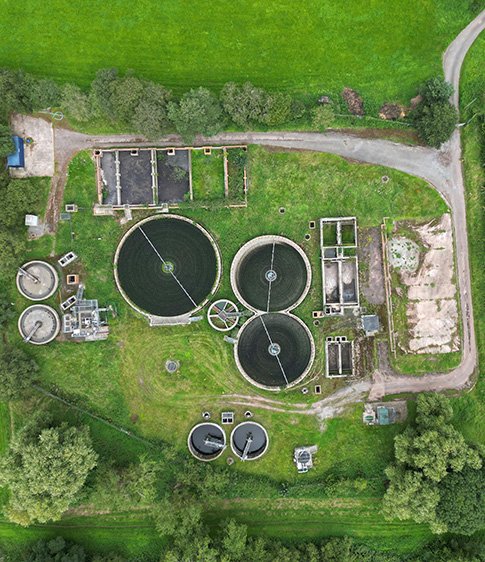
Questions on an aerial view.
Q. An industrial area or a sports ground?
industrial area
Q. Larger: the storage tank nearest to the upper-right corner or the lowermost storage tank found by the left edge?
the storage tank nearest to the upper-right corner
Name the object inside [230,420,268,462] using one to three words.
storage tank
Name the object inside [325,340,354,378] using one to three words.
storage tank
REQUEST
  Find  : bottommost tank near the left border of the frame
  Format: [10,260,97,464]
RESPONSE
[19,304,61,345]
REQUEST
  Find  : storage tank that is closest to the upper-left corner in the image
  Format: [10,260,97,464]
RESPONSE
[16,260,59,301]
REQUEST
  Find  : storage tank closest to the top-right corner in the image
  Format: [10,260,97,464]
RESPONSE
[319,217,359,314]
